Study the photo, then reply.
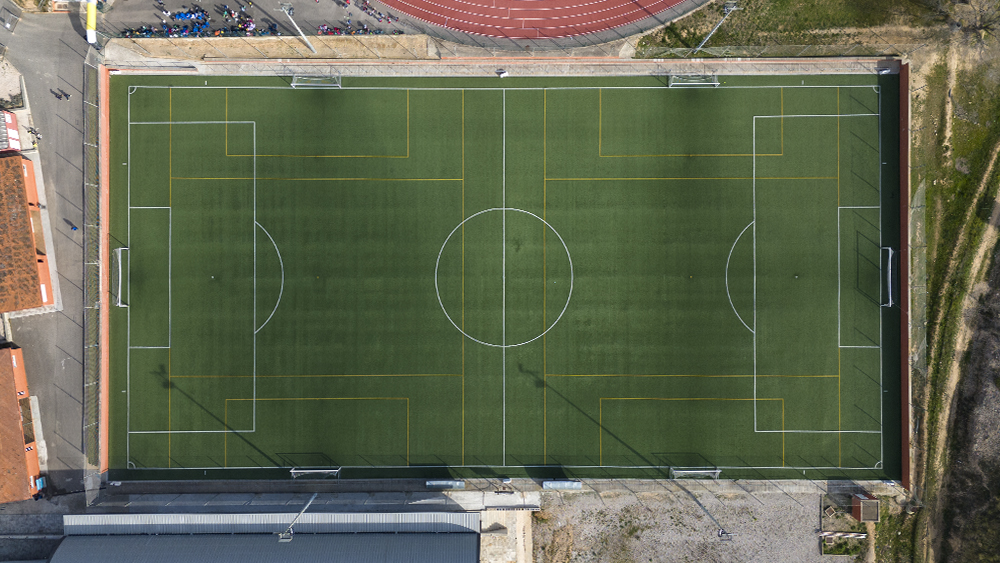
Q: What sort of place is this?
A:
sports ground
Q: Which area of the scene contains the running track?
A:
top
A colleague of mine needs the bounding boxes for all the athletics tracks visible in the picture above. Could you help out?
[375,0,687,39]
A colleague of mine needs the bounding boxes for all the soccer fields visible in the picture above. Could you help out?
[108,76,901,478]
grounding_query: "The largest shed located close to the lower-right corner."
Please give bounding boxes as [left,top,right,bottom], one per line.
[853,495,880,522]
